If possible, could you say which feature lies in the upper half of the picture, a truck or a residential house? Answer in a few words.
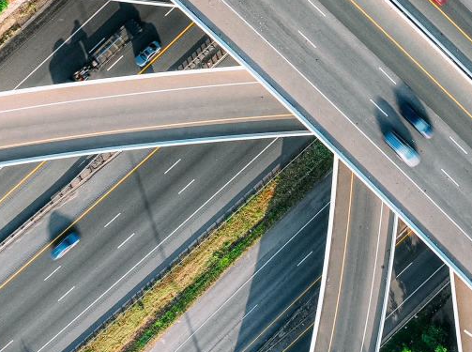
truck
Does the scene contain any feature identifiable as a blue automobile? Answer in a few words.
Yes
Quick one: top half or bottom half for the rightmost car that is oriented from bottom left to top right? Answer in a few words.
top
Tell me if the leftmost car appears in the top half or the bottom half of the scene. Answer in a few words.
bottom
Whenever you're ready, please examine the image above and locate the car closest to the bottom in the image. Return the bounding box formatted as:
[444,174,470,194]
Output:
[49,230,81,261]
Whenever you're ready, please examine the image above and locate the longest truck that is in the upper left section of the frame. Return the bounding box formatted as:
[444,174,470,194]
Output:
[61,8,161,85]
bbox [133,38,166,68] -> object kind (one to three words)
car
